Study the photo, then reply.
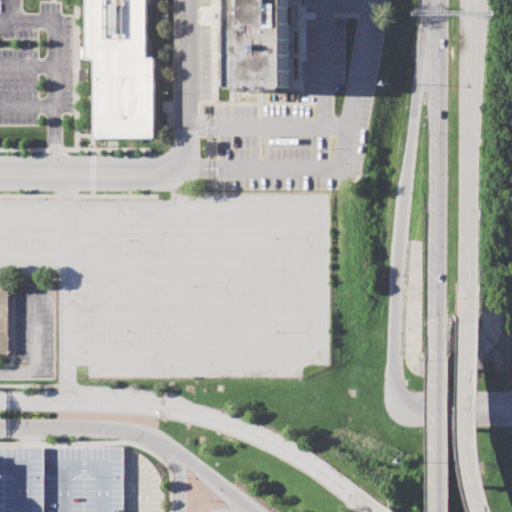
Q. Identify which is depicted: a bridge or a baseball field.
bridge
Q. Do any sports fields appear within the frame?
No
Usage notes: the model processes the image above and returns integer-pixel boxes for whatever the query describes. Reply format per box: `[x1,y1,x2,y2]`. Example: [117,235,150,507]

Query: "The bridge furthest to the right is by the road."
[454,320,491,512]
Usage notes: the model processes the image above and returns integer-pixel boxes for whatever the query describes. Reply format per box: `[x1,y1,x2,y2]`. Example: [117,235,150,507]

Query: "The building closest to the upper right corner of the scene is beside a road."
[222,0,315,91]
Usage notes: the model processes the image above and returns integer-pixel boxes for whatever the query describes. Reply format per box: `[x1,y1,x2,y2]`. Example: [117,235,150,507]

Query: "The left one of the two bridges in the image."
[426,359,448,512]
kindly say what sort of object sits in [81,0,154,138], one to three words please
building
